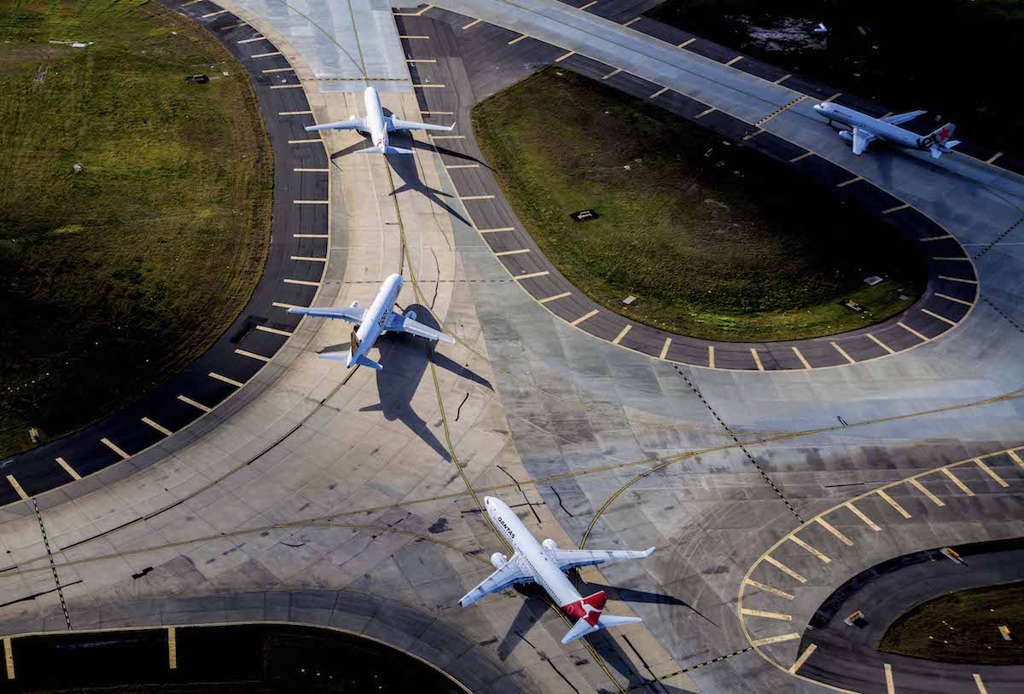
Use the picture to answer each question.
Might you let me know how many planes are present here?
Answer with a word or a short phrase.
4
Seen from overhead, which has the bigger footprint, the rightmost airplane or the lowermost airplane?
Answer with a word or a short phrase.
the lowermost airplane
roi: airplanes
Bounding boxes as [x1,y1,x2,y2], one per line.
[286,274,457,368]
[455,499,654,641]
[815,103,960,157]
[302,86,456,154]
